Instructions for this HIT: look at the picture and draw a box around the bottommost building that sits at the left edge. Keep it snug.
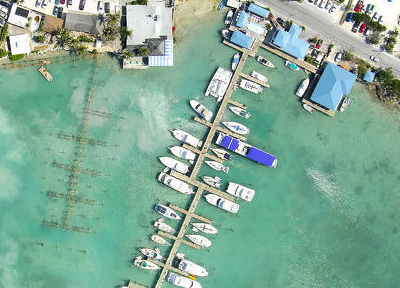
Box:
[9,34,31,56]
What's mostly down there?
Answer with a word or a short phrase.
water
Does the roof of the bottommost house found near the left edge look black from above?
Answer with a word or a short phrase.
No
